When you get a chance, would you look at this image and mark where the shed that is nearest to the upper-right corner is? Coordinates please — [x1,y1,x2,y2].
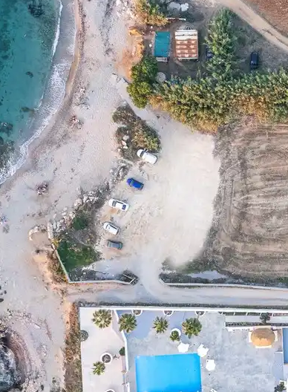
[174,29,198,60]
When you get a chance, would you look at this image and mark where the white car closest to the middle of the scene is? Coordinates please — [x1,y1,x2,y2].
[109,199,130,211]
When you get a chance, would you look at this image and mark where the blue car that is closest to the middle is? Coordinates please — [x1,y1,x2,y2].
[126,177,145,190]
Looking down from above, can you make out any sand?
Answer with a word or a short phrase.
Yes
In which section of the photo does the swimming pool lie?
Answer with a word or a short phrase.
bottom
